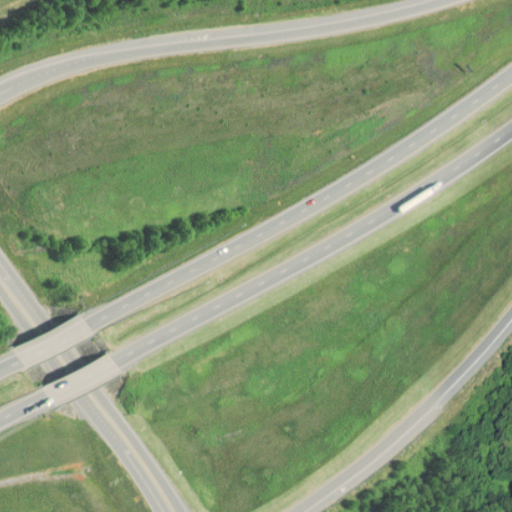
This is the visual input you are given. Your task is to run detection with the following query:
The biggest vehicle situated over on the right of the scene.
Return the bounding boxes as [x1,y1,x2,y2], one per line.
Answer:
[404,180,446,210]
